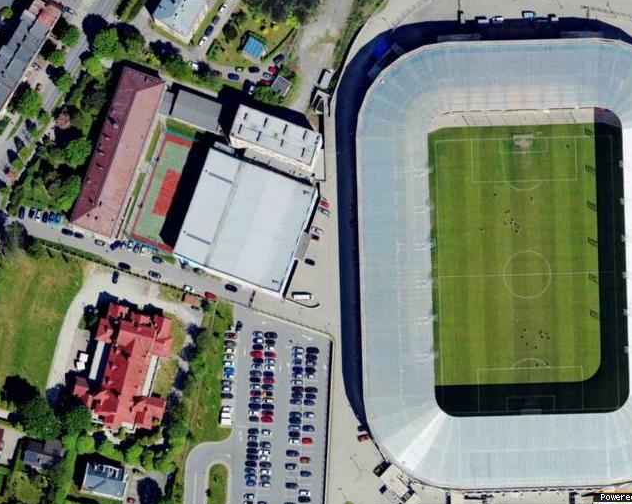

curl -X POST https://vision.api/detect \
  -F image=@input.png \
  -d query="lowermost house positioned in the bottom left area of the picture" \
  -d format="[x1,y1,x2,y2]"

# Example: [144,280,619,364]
[81,462,127,501]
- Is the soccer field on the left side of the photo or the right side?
right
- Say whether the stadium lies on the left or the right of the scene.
right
